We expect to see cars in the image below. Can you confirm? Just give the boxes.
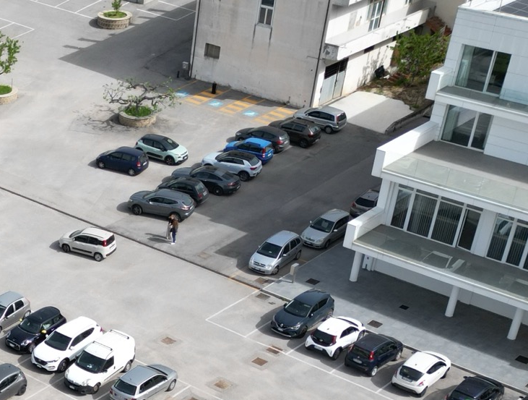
[302,202,358,246]
[0,359,29,400]
[223,140,276,168]
[343,330,403,376]
[443,372,504,400]
[307,314,368,359]
[249,227,306,273]
[0,288,35,332]
[60,225,120,262]
[391,349,454,397]
[288,104,346,136]
[32,315,104,372]
[134,185,200,220]
[263,119,324,150]
[171,164,238,198]
[97,146,151,175]
[6,303,70,351]
[239,130,298,160]
[273,285,336,336]
[202,151,262,183]
[147,176,206,203]
[134,131,191,165]
[106,360,182,400]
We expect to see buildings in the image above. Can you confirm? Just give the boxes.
[346,0,528,339]
[193,0,466,108]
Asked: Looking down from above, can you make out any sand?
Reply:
No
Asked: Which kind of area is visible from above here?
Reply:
parking lot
